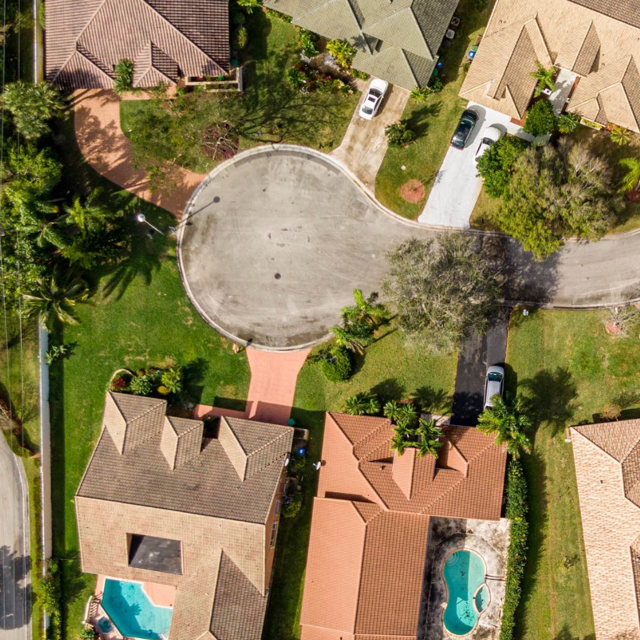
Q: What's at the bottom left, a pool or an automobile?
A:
pool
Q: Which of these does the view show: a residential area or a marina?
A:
residential area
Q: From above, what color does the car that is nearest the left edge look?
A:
white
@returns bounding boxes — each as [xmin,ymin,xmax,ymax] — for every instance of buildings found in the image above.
[300,411,507,640]
[263,0,460,95]
[570,420,640,640]
[74,391,296,640]
[44,0,234,99]
[458,0,640,136]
